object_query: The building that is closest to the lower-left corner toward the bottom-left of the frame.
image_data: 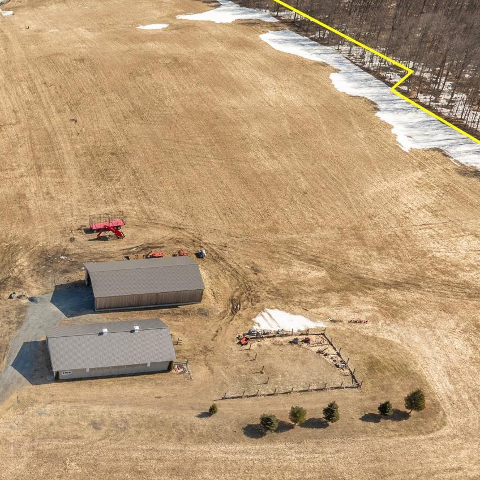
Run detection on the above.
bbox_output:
[44,319,177,380]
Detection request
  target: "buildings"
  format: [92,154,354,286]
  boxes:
[84,257,206,311]
[44,319,177,380]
